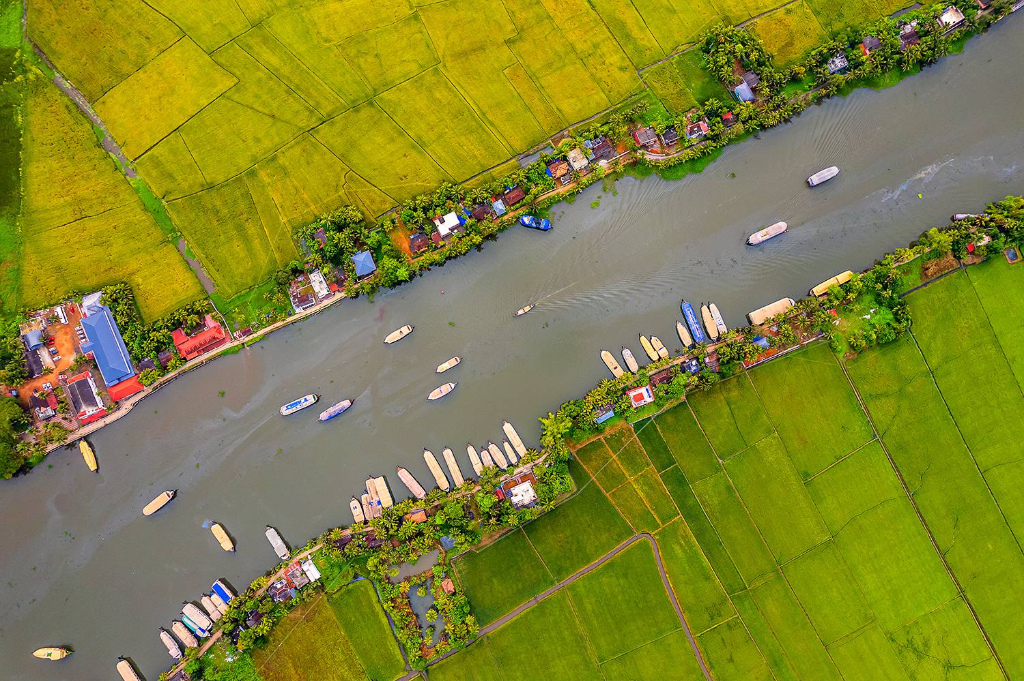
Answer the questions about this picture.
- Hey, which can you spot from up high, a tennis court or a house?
house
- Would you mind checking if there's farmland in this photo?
Yes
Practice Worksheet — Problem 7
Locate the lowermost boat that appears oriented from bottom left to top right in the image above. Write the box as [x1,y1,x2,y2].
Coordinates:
[143,488,181,517]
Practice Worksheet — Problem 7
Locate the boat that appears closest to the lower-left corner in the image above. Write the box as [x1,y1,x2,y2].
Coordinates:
[34,644,78,658]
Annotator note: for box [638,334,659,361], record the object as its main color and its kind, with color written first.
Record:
yellow boat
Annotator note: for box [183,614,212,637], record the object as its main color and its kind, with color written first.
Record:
white boat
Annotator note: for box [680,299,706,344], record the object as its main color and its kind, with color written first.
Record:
blue boat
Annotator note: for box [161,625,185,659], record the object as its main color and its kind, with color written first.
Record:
white boat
